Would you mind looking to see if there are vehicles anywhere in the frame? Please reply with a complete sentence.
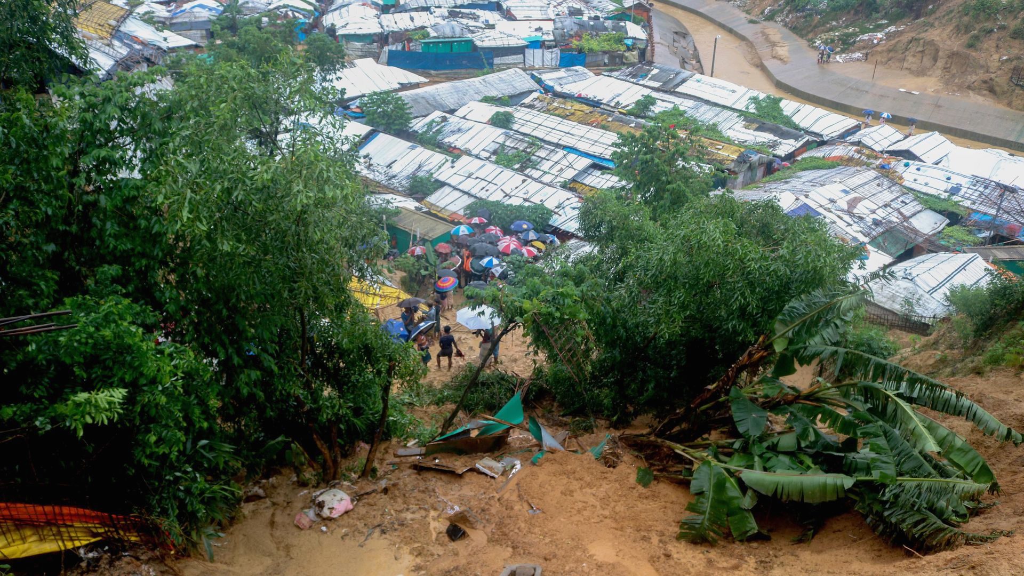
No, no vehicle is visible in the scene.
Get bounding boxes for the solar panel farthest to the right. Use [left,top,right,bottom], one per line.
[943,181,965,197]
